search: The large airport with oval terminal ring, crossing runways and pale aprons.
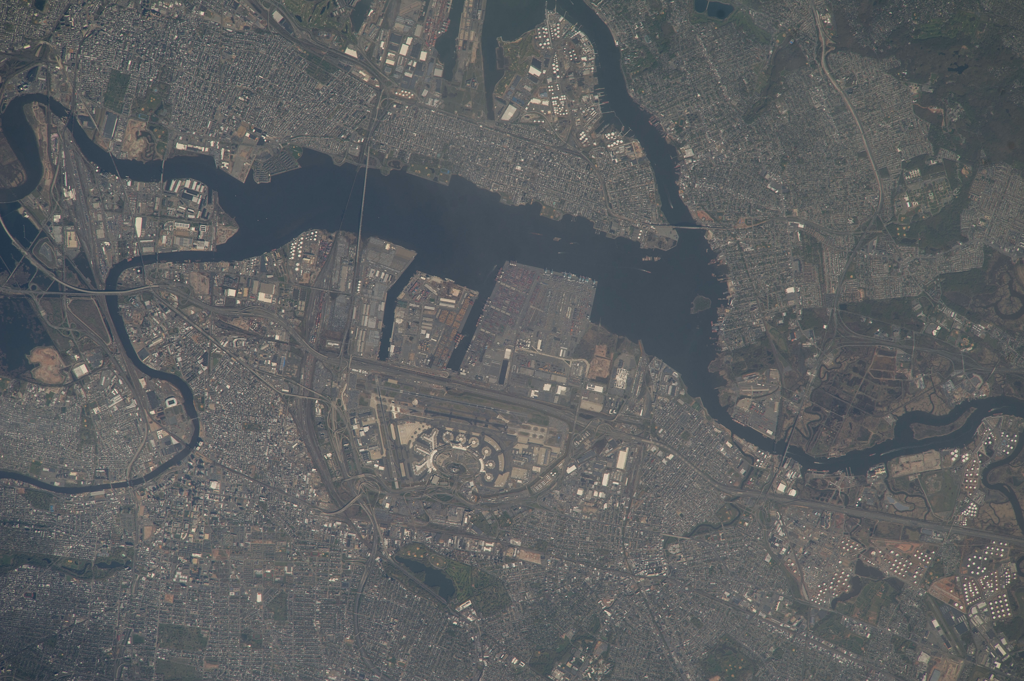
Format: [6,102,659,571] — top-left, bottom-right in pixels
[349,372,569,493]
